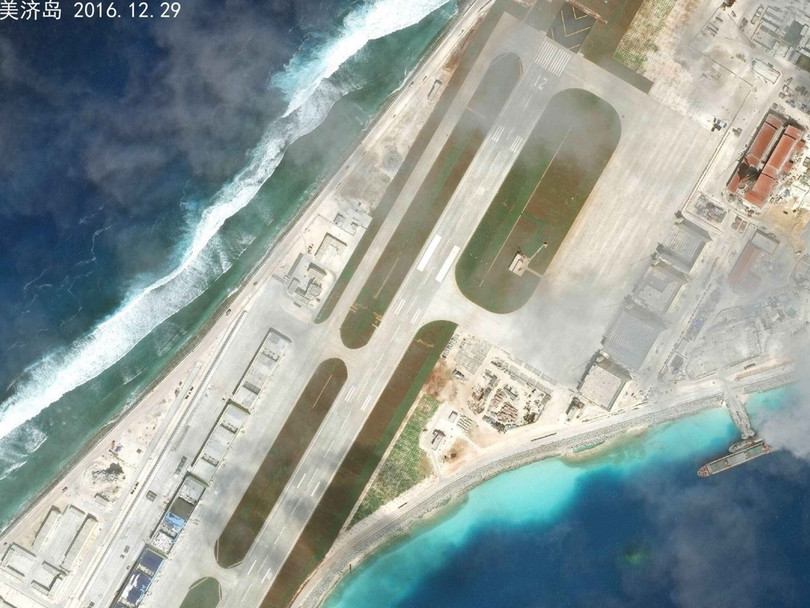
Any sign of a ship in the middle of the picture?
No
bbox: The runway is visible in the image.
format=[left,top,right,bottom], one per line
[215,33,574,608]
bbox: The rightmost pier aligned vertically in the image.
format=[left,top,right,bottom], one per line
[729,386,753,437]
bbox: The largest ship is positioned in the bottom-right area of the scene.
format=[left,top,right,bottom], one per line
[697,440,774,474]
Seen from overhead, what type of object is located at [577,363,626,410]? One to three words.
hangar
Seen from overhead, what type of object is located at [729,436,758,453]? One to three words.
ship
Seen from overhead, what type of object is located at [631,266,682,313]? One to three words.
hangar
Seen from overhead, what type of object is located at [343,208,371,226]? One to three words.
building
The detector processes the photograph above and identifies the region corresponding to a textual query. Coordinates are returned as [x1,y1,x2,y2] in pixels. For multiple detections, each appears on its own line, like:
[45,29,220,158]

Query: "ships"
[729,436,758,453]
[697,440,774,474]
